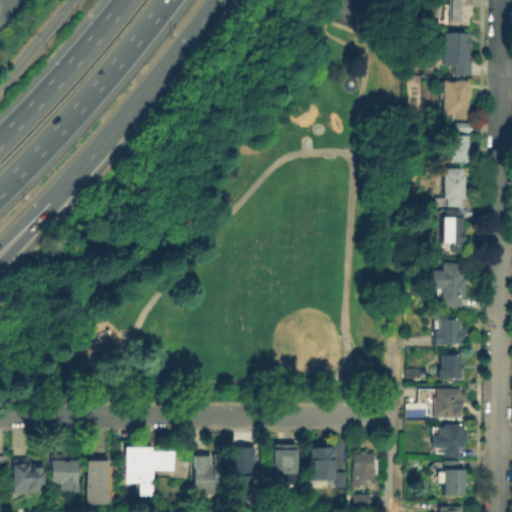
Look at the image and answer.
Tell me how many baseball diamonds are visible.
1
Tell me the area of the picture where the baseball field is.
center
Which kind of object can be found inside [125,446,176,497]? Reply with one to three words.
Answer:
house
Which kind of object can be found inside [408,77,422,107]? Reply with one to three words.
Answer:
building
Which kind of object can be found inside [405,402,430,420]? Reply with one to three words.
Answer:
building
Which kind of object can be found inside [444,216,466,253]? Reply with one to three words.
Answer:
house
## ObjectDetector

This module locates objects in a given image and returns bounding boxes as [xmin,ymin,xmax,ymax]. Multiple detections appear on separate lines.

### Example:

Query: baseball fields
[178,156,348,394]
